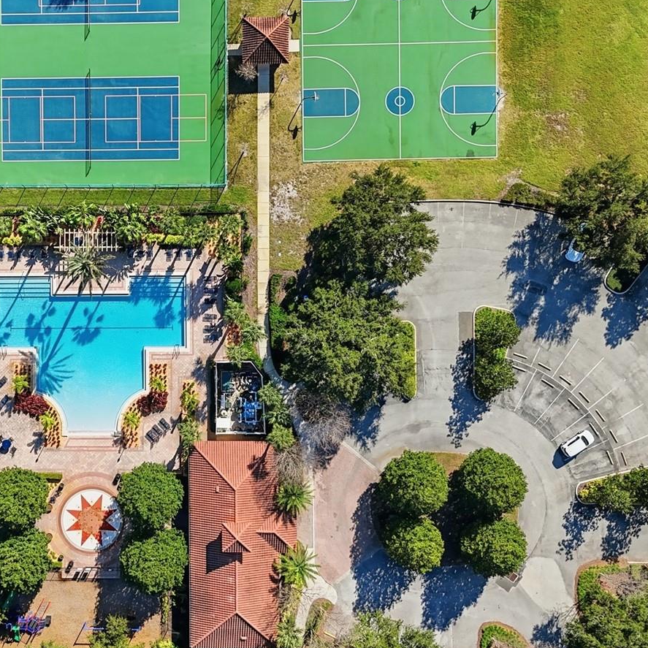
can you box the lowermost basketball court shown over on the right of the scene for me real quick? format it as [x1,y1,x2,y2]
[302,40,497,162]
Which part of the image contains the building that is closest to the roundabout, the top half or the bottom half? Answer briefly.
bottom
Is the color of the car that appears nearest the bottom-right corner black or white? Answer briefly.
white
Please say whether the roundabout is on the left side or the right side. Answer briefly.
right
